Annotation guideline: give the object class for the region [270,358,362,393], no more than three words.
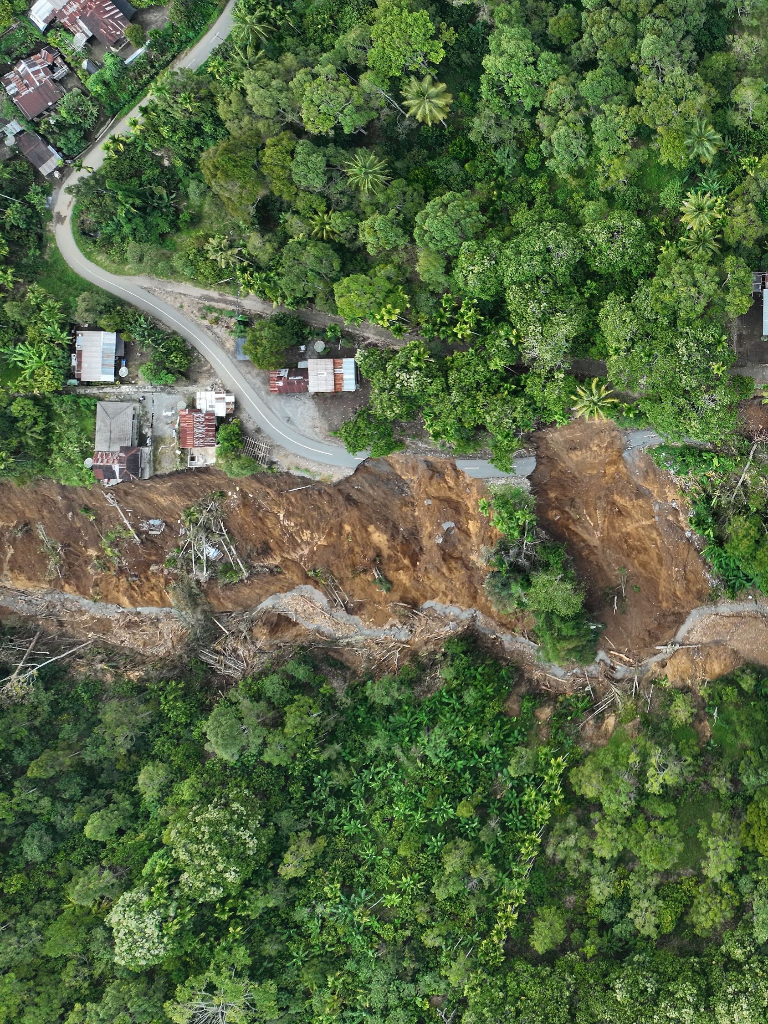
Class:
house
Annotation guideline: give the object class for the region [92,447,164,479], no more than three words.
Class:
house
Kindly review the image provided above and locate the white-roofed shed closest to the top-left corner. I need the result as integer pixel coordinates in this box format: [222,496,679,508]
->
[30,0,68,30]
